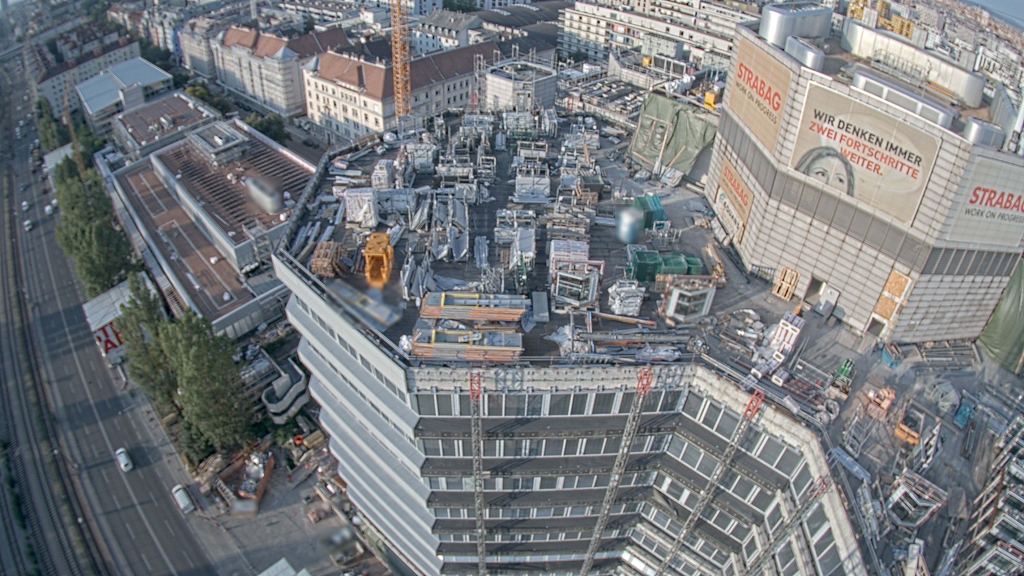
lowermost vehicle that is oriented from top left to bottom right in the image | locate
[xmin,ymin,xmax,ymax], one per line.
[172,485,199,518]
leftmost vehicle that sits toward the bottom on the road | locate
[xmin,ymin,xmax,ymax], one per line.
[115,448,135,476]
